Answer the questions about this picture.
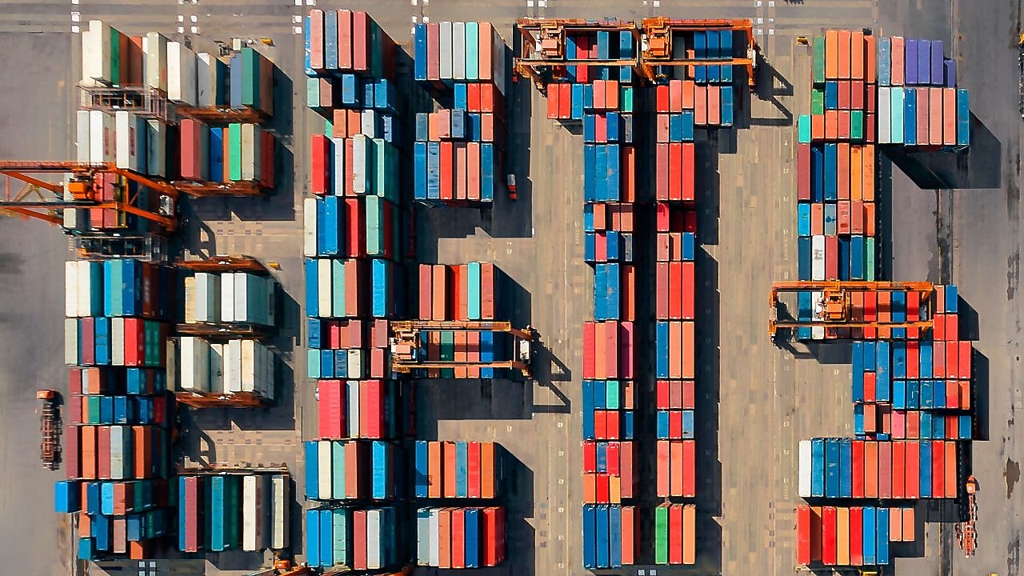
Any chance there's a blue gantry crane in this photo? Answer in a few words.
No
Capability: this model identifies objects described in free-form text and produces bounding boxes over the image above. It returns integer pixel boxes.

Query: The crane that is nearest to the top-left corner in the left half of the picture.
[0,158,175,238]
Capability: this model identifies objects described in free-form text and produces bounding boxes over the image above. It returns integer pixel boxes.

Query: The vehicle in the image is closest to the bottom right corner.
[963,477,978,555]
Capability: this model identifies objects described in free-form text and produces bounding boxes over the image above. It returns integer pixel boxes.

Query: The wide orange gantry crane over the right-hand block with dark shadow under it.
[769,278,934,346]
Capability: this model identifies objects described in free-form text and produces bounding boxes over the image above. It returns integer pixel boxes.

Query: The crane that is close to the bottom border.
[260,553,432,576]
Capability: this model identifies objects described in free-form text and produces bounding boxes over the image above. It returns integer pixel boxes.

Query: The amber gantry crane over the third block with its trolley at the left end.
[388,318,535,382]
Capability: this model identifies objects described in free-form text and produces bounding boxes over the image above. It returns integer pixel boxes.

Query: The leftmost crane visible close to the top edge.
[515,15,647,106]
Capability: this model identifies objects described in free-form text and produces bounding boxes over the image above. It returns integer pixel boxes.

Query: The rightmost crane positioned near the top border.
[641,15,758,106]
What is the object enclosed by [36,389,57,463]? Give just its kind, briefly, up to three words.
truck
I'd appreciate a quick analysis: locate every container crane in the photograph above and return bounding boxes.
[769,278,934,346]
[641,15,758,106]
[388,318,535,382]
[515,15,647,106]
[0,158,175,238]
[260,553,432,576]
